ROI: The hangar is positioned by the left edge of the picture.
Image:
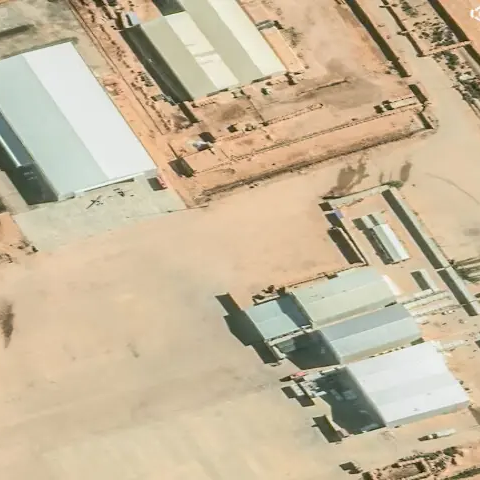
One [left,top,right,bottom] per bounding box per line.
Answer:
[0,41,157,200]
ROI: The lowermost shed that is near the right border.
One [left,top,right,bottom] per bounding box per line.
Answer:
[346,341,471,432]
